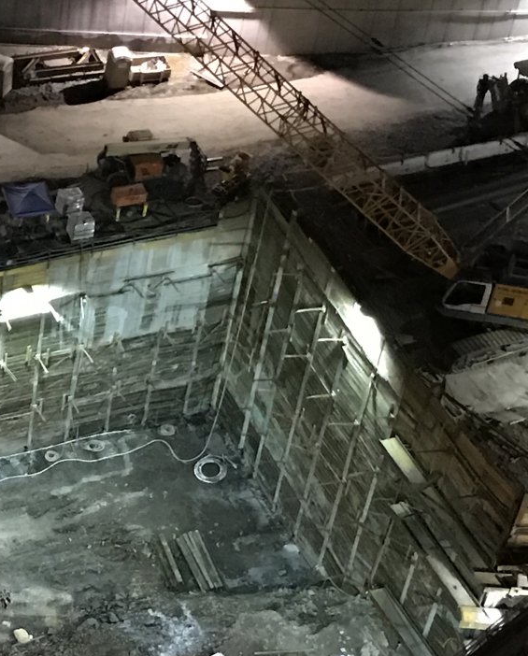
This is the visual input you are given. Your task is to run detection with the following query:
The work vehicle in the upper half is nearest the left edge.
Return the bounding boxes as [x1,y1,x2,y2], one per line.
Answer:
[113,135,229,195]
